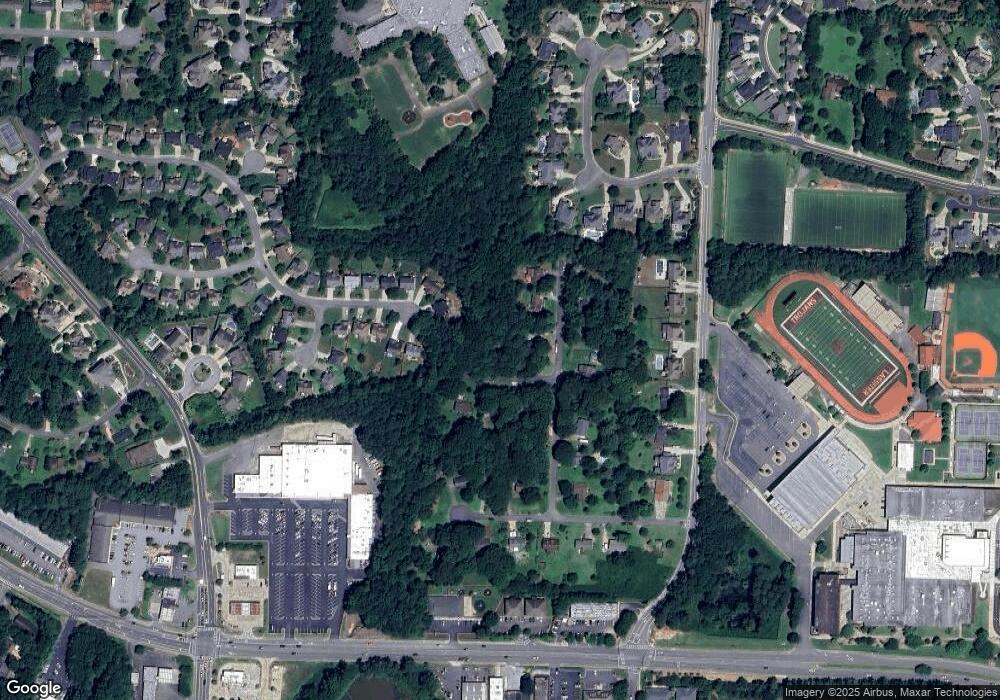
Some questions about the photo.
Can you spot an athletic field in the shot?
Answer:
Yes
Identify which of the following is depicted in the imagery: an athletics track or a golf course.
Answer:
athletics track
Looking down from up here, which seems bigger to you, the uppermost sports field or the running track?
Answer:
the running track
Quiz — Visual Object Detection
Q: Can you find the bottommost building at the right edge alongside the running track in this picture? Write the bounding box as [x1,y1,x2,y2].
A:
[841,487,1000,627]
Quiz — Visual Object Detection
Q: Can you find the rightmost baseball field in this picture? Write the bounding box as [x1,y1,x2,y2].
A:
[942,284,1000,391]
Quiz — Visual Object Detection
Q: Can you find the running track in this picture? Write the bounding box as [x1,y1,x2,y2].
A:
[744,271,910,425]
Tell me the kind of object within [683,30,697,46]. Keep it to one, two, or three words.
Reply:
swimming pool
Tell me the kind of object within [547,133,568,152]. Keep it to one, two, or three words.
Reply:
house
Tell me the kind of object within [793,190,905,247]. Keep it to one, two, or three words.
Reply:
sports field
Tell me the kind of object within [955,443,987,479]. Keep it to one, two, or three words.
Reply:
tennis court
